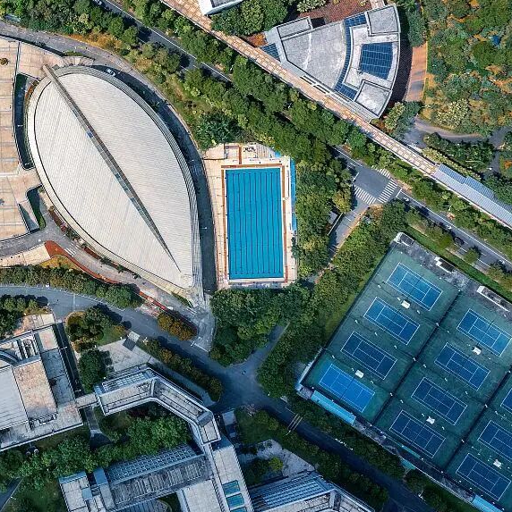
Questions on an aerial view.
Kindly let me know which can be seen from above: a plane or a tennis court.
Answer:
tennis court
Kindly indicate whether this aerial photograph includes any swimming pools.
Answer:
Yes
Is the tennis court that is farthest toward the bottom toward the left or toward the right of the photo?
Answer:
right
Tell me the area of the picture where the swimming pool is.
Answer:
center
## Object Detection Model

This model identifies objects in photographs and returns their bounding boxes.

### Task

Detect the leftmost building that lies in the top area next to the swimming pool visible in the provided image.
[27,64,202,304]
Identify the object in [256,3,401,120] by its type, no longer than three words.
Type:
building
